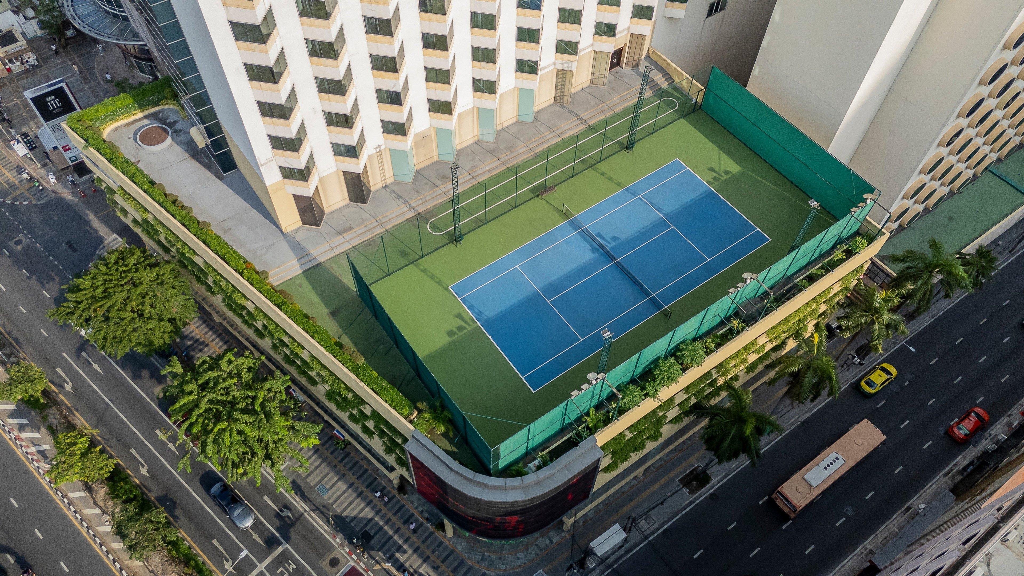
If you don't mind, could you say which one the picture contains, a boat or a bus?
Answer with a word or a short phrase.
bus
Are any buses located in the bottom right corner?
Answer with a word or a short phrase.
Yes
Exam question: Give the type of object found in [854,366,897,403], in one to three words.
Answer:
car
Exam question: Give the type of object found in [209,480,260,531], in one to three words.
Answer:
car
